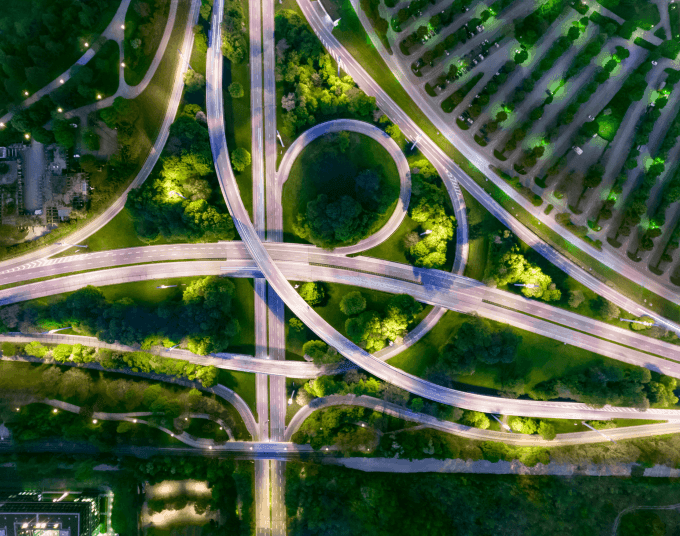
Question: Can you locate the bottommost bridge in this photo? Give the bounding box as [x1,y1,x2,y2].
[246,440,296,460]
